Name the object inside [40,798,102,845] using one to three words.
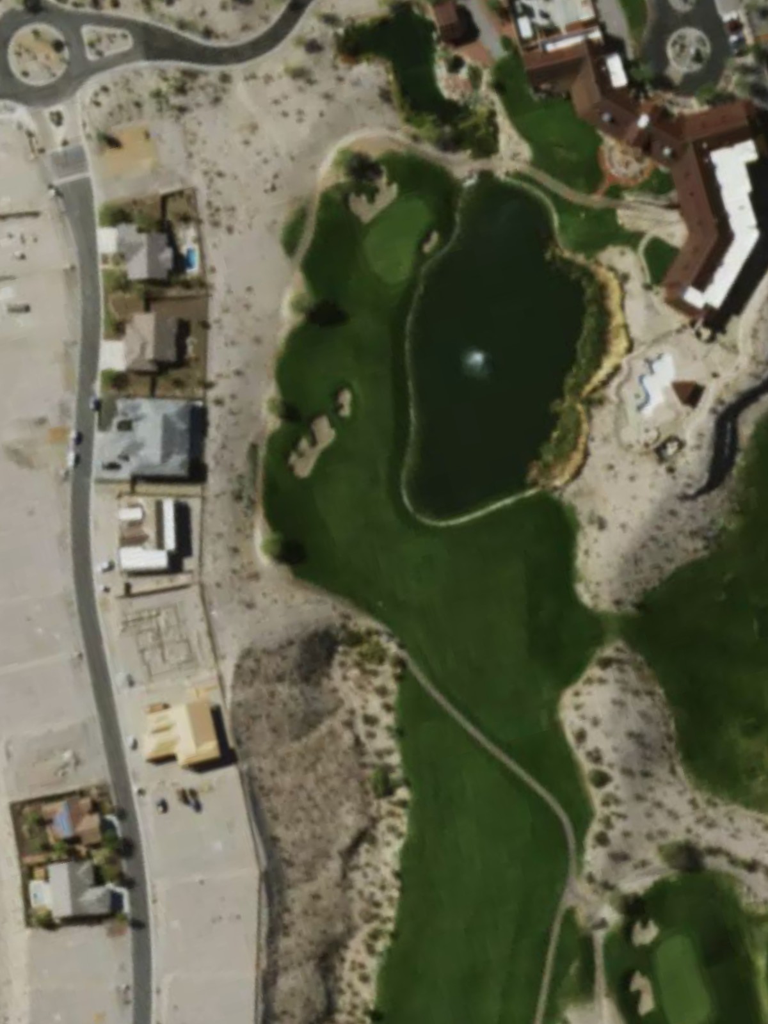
house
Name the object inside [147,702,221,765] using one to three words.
house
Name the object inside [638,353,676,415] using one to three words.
swimming pool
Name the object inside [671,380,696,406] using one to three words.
building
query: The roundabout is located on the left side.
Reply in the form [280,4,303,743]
[0,5,88,104]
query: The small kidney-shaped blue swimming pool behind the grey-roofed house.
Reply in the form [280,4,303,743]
[178,242,200,273]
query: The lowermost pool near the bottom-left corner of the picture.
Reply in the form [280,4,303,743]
[29,881,52,907]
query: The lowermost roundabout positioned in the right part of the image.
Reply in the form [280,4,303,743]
[666,26,712,84]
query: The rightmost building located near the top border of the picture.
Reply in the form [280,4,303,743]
[511,0,759,318]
